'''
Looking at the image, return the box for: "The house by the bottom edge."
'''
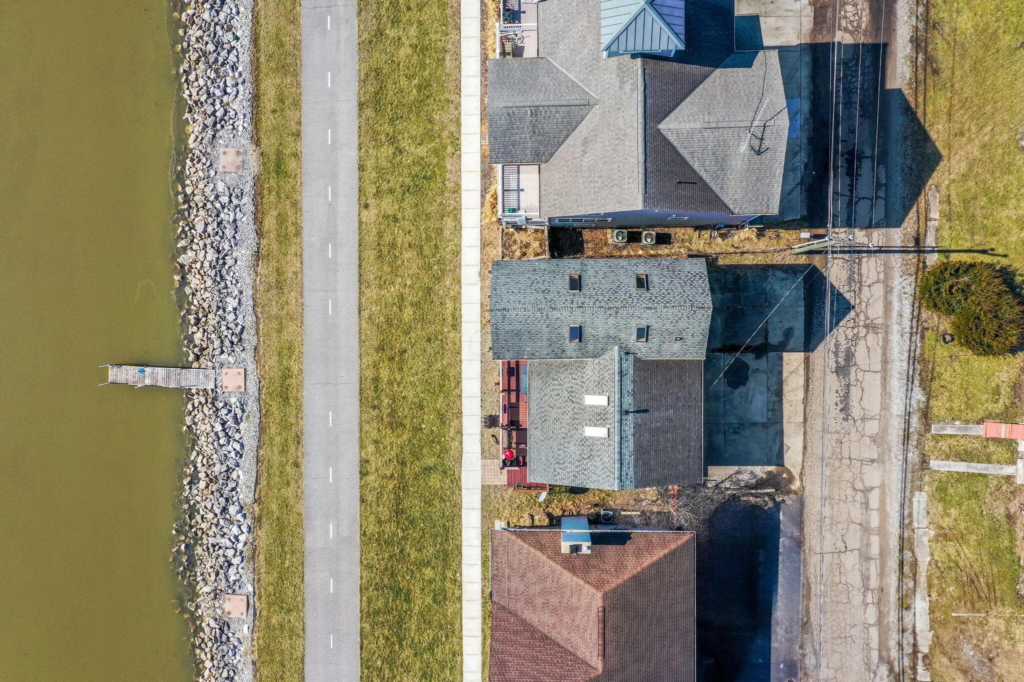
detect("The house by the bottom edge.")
[488,516,697,682]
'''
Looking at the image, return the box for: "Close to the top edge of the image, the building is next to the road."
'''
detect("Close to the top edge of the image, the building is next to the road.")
[487,0,789,232]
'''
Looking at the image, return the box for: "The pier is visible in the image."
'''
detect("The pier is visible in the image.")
[102,364,215,393]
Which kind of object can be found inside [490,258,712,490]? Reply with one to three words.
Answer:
house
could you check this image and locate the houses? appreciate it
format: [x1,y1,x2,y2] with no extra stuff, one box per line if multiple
[487,0,789,232]
[490,258,712,490]
[488,516,697,682]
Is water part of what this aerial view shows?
Yes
